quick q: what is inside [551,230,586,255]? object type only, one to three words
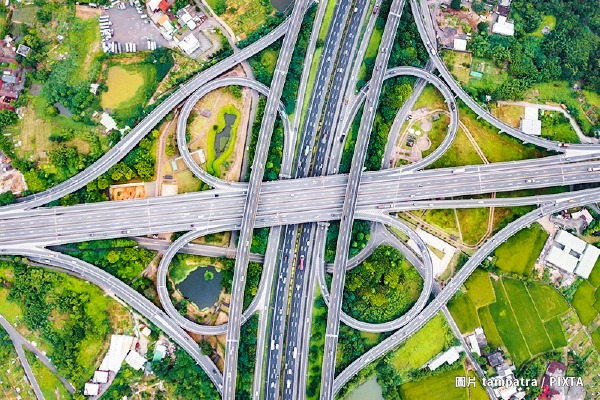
building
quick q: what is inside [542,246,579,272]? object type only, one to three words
building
